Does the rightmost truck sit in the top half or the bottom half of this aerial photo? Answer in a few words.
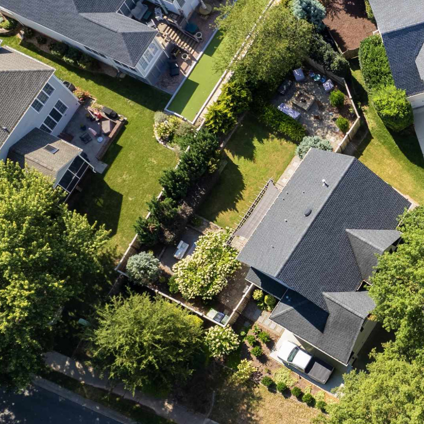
bottom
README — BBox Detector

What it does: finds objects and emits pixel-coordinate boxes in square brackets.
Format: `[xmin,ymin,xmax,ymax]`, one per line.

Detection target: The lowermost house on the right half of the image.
[236,148,413,372]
